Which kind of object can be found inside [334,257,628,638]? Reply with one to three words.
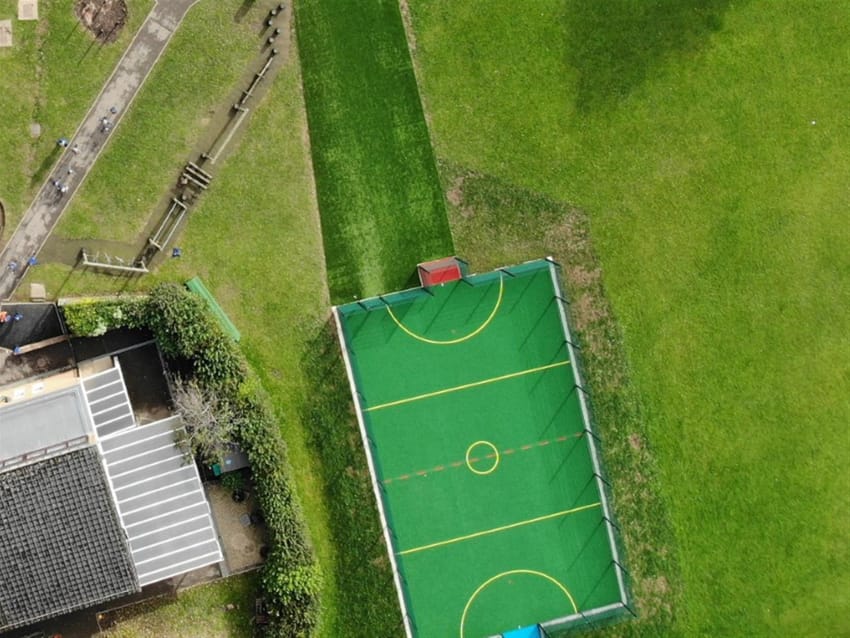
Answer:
sports court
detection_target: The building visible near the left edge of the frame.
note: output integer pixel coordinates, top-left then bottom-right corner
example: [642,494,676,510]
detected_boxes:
[0,371,142,632]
